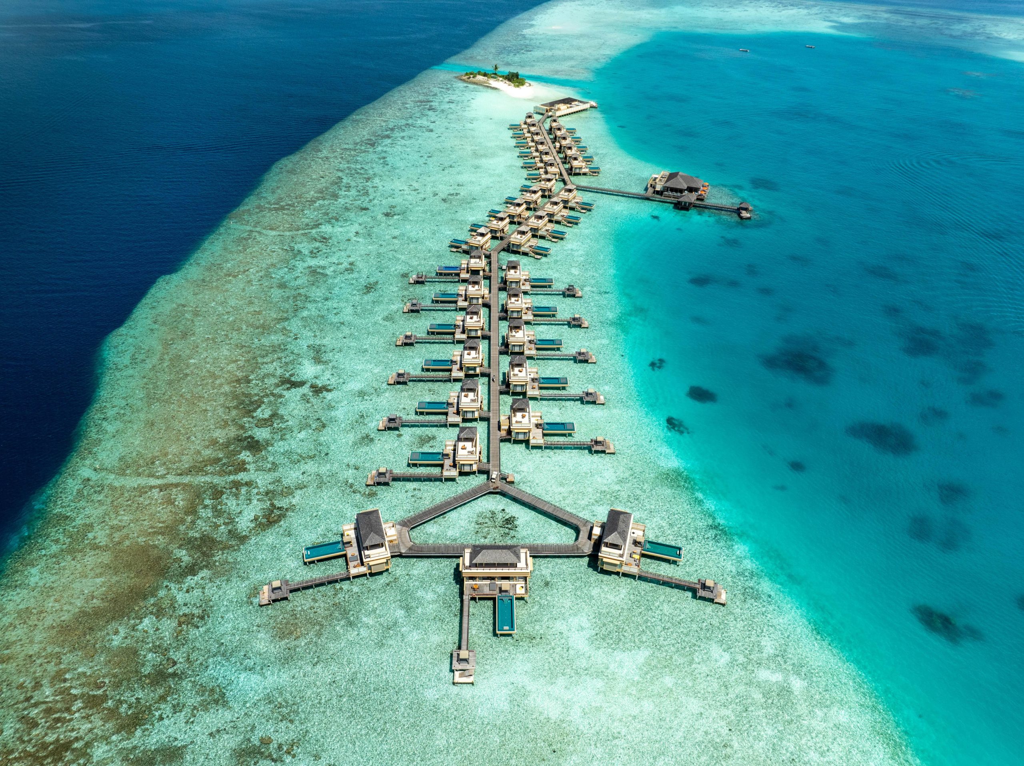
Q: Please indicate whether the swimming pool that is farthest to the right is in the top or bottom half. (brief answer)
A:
bottom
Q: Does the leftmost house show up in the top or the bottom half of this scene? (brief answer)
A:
bottom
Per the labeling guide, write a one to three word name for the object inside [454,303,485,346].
house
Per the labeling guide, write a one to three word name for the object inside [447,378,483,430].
house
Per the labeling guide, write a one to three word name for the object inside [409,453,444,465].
swimming pool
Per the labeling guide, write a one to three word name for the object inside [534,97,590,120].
building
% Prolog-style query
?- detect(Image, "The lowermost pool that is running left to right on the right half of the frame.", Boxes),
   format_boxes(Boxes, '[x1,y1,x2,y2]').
[643,540,686,563]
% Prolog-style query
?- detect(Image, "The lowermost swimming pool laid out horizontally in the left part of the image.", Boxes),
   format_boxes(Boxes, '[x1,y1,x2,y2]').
[305,540,348,563]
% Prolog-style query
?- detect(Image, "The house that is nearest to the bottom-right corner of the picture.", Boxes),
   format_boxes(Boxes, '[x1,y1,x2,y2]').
[593,507,647,584]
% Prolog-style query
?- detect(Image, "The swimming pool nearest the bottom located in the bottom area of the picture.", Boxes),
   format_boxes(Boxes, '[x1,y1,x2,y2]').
[496,598,514,639]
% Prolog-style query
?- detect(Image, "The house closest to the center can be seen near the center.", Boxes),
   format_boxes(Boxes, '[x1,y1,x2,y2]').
[506,354,541,404]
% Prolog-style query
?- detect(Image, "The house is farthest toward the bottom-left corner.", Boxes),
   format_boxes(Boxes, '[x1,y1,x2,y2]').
[345,508,398,584]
